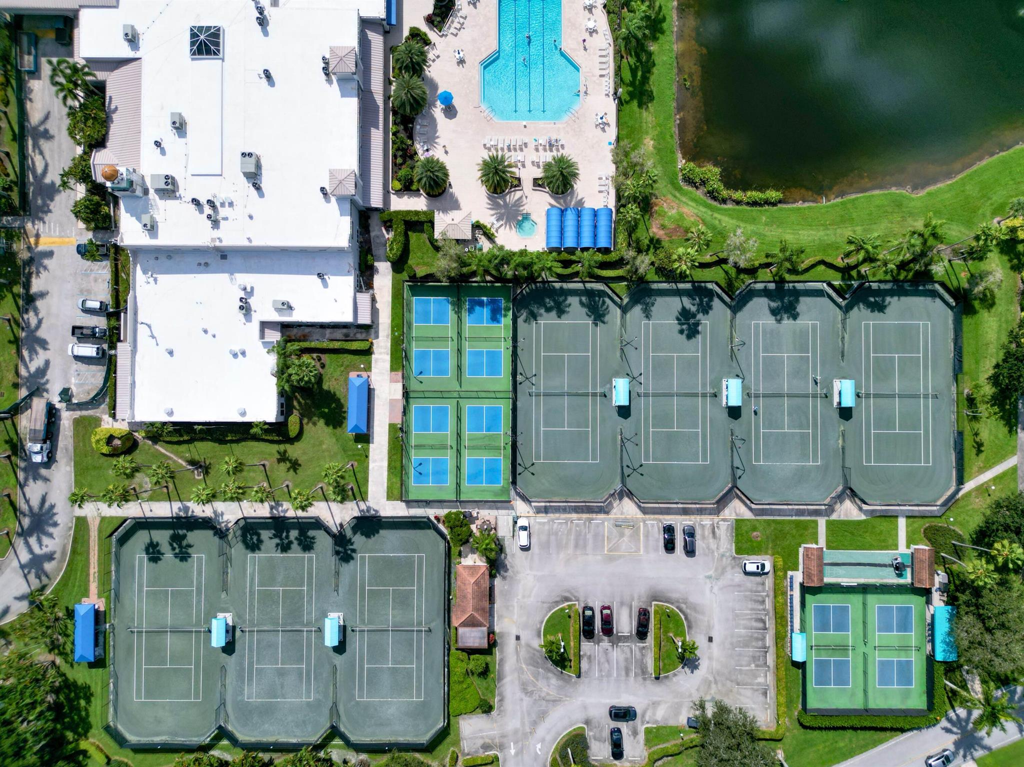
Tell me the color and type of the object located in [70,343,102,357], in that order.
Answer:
white vehicle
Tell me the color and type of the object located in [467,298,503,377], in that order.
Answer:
blue sports court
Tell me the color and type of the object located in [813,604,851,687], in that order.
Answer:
blue sports court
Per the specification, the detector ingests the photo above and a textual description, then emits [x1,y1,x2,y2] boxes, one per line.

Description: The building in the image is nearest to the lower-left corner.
[73,601,105,662]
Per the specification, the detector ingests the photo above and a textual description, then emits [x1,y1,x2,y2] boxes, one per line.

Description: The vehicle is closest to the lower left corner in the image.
[24,393,55,461]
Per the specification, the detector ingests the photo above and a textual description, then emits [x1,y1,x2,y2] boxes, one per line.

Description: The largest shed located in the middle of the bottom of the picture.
[452,564,493,650]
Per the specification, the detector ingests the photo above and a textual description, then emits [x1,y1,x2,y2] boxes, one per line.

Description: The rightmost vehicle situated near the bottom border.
[923,745,955,767]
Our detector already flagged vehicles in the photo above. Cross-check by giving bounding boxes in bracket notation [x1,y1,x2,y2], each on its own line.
[740,560,770,575]
[516,518,530,548]
[662,523,676,552]
[610,726,625,758]
[600,605,614,635]
[682,524,697,555]
[70,343,102,357]
[607,705,637,722]
[70,324,109,339]
[636,608,650,639]
[24,393,55,461]
[78,297,110,312]
[923,745,955,767]
[892,556,908,573]
[582,607,596,637]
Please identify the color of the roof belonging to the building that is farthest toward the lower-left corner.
blue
